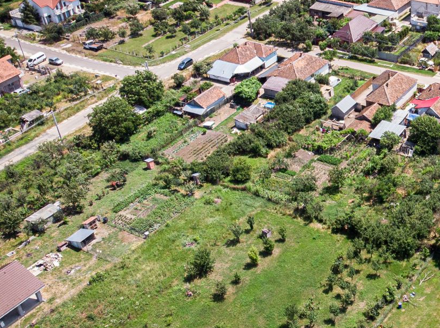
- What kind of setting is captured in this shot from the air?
residential area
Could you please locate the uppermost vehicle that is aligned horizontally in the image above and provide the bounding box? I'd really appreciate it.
[79,35,106,50]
